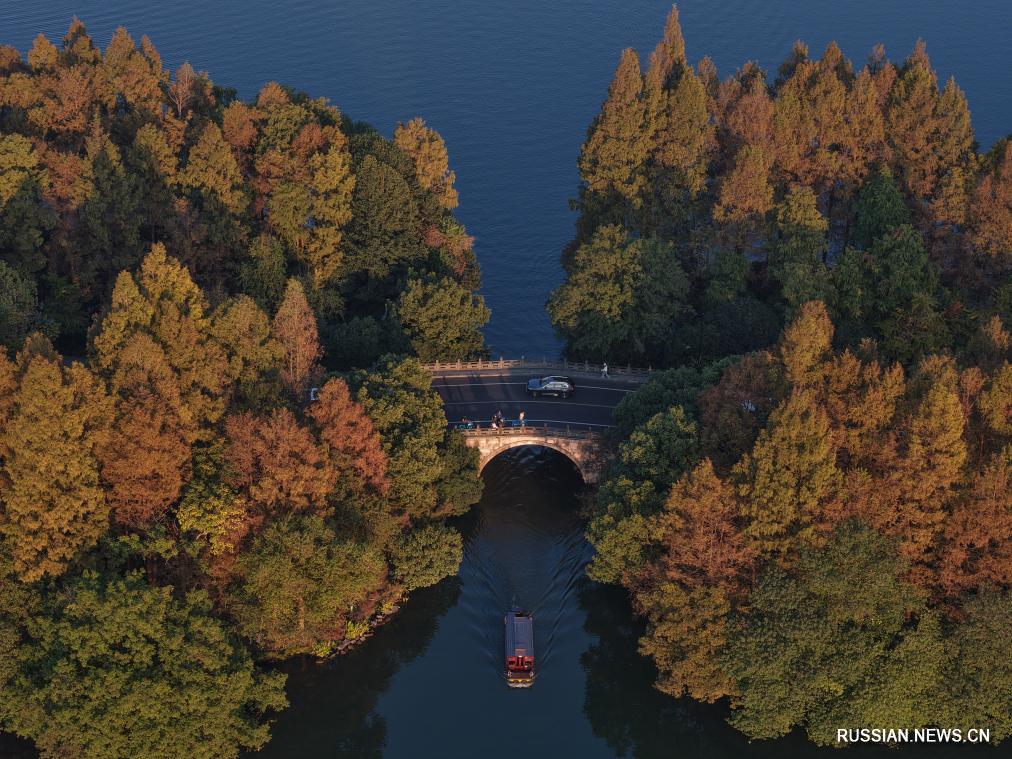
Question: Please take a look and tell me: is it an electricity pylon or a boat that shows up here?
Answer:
boat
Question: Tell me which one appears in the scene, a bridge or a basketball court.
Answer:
bridge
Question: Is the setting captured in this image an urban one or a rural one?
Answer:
rural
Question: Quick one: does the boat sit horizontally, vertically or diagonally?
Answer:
vertically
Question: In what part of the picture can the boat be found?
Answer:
bottom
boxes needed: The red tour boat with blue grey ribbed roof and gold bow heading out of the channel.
[504,606,532,687]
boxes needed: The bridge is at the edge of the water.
[366,355,703,480]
